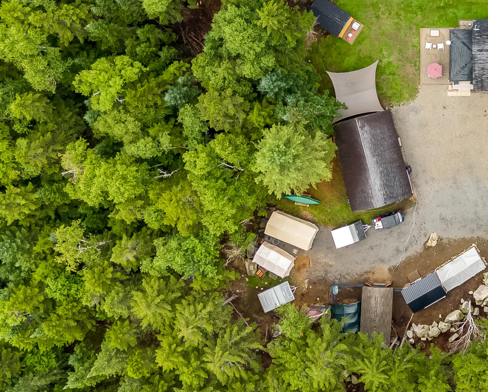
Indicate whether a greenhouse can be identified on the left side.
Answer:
No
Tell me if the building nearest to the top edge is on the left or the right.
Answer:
right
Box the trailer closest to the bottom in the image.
[259,280,299,312]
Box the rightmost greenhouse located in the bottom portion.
[437,246,487,291]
